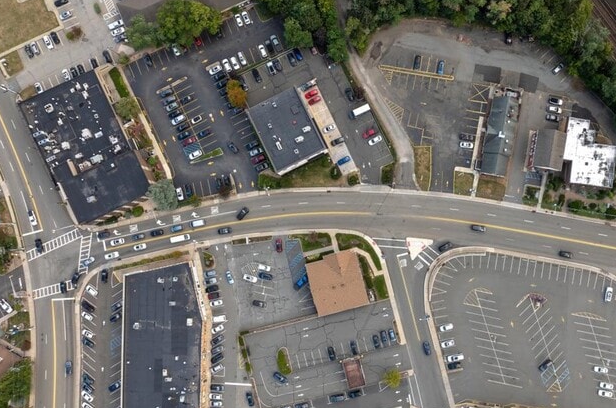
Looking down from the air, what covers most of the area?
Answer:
paved ground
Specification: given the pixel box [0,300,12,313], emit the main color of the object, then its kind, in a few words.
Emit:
white vehicle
